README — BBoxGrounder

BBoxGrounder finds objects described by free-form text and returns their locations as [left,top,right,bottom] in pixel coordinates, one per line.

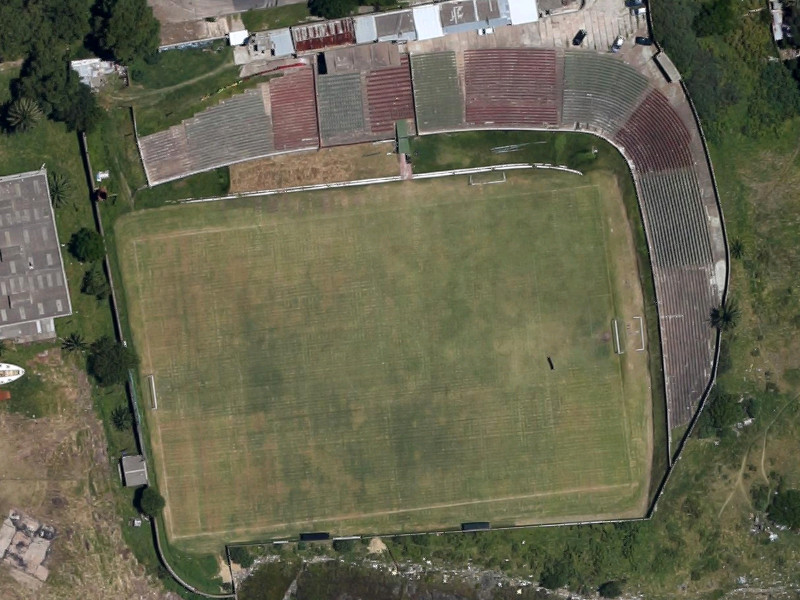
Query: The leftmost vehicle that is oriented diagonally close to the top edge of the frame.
[571,28,588,47]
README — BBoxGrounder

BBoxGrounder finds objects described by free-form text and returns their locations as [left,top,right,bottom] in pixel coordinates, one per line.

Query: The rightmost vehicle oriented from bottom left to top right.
[610,34,626,52]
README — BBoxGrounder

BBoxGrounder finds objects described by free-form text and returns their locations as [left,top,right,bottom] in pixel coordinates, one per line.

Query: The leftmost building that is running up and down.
[0,165,75,330]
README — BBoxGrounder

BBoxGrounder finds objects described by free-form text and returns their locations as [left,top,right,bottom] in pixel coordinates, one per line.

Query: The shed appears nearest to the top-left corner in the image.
[72,59,113,88]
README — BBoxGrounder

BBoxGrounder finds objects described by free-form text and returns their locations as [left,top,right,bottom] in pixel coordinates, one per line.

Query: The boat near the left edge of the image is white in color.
[0,363,26,384]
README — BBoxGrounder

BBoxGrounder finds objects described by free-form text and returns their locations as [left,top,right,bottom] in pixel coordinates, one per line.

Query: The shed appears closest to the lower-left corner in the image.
[122,455,148,487]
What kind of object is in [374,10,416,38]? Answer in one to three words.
building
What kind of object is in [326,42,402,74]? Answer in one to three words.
building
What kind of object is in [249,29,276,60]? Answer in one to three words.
house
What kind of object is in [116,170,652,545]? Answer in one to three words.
soccer field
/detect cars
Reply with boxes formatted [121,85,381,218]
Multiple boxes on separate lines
[477,27,495,35]
[635,36,653,45]
[631,5,649,15]
[623,0,643,7]
[610,34,626,52]
[571,28,588,47]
